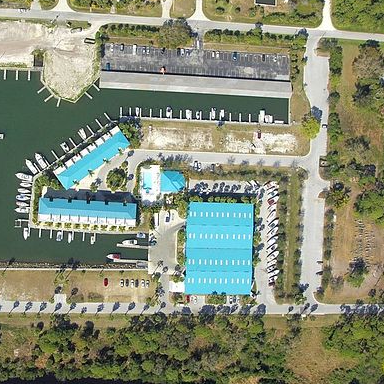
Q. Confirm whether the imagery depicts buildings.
Yes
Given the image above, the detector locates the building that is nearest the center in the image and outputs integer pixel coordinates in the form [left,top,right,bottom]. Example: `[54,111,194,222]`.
[161,170,186,192]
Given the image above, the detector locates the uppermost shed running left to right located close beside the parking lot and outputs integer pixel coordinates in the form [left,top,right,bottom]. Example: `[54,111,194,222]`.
[100,71,292,98]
